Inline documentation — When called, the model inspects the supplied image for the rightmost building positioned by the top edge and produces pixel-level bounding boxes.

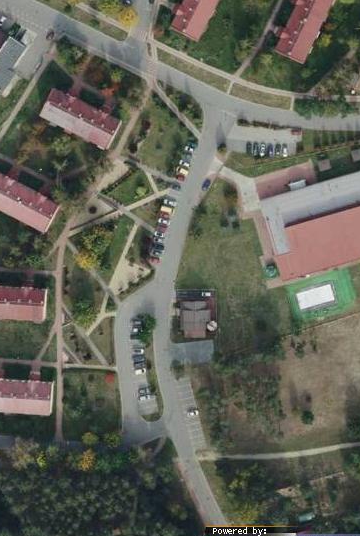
[274,0,335,64]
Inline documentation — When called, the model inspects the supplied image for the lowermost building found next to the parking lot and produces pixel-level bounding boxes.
[261,171,360,281]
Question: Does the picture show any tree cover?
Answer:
Yes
